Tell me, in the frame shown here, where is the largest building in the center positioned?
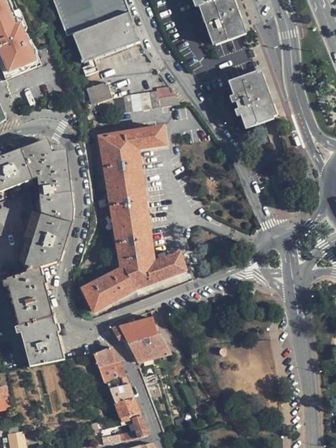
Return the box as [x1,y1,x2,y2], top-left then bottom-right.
[82,124,188,312]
